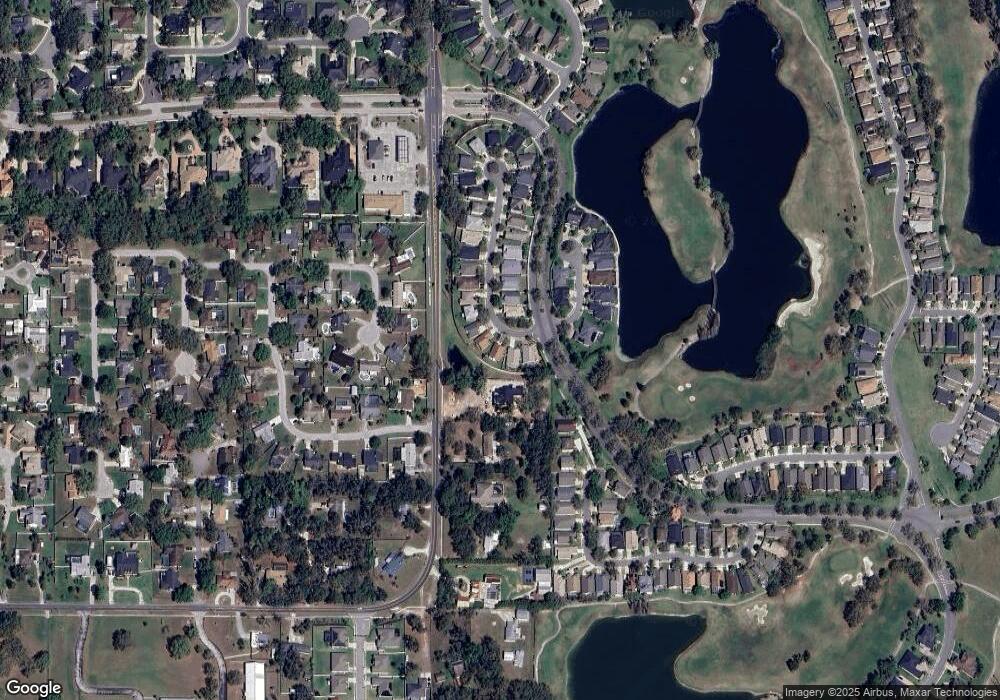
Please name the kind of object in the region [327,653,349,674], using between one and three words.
house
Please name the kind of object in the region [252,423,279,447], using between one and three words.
house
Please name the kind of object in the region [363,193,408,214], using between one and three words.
building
